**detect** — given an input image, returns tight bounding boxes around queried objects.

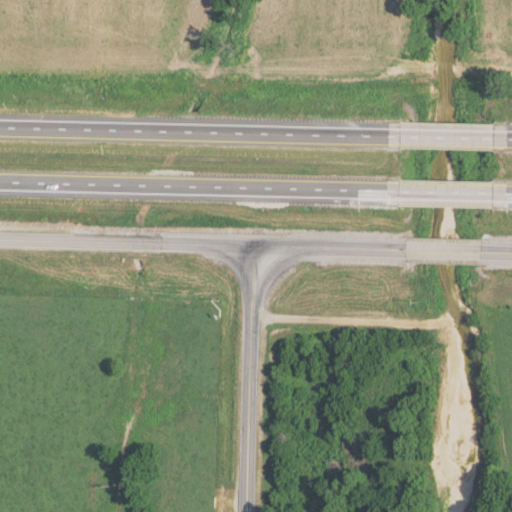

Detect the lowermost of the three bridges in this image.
[404,238,483,265]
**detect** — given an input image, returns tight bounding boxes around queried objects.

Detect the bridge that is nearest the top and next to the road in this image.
[388,122,508,152]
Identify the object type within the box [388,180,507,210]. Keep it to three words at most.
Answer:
bridge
